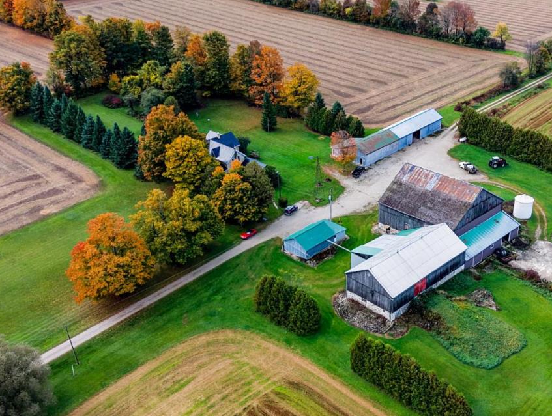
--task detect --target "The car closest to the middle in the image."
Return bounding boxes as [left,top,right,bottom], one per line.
[281,199,301,214]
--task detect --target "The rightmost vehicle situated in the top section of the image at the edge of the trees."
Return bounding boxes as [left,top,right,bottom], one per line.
[488,154,511,168]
